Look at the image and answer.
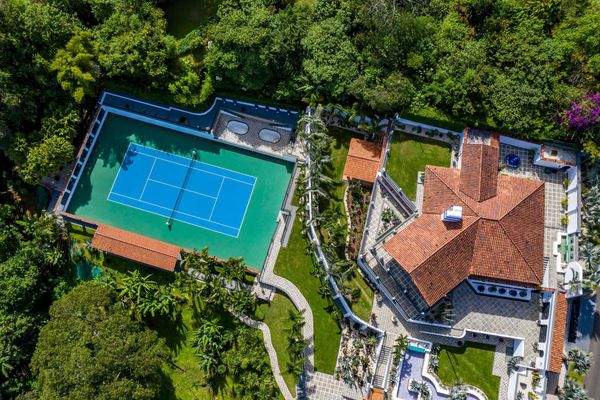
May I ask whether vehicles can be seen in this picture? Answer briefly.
No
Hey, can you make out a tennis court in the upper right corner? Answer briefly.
No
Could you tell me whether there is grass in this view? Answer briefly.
Yes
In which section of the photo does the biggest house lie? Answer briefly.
right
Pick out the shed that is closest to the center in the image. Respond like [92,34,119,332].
[343,139,382,184]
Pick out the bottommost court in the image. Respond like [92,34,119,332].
[63,115,294,272]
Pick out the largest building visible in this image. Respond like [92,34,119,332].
[384,127,547,306]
